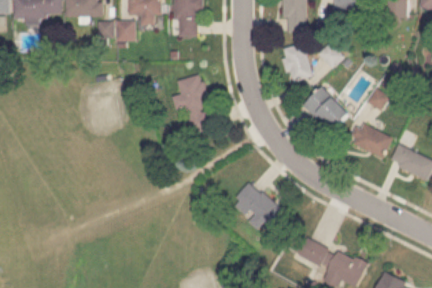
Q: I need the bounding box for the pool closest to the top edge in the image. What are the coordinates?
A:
[22,32,40,49]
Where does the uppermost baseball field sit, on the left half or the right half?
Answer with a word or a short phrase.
left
